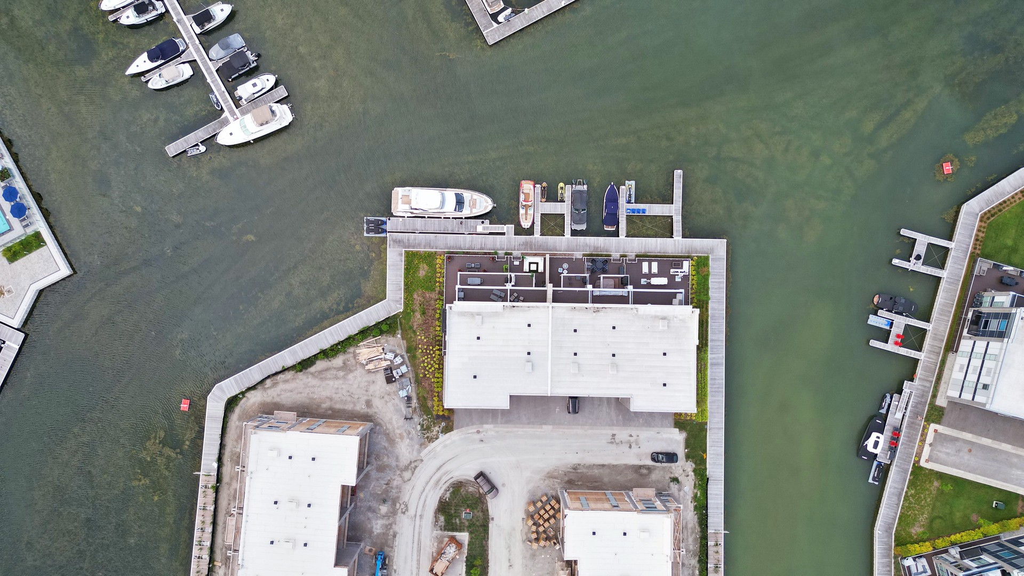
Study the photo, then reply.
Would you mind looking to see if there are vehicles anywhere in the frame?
Yes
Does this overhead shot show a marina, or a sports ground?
marina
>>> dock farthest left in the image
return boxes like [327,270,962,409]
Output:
[0,320,29,397]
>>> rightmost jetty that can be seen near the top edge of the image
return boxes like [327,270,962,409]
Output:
[465,0,578,46]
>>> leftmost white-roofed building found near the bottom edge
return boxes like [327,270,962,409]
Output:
[224,411,381,576]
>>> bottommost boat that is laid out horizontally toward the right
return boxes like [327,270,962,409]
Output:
[870,294,917,316]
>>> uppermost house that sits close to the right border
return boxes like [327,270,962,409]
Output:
[947,258,1024,421]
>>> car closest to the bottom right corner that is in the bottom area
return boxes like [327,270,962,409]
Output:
[650,451,678,465]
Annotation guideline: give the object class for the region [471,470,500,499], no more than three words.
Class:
car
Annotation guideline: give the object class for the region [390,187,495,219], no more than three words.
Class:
boat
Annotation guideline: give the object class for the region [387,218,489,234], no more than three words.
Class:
pier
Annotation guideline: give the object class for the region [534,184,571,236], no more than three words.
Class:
pier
